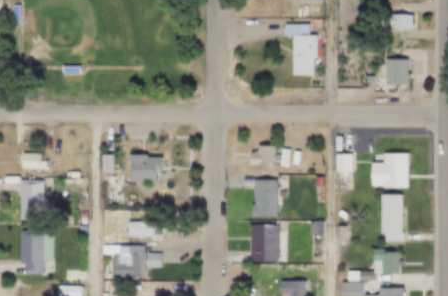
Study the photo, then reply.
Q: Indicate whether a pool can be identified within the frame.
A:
No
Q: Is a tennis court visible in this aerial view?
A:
No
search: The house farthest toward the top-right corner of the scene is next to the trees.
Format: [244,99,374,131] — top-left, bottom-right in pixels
[390,14,414,30]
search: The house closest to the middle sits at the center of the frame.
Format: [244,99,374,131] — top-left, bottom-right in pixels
[249,146,278,166]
